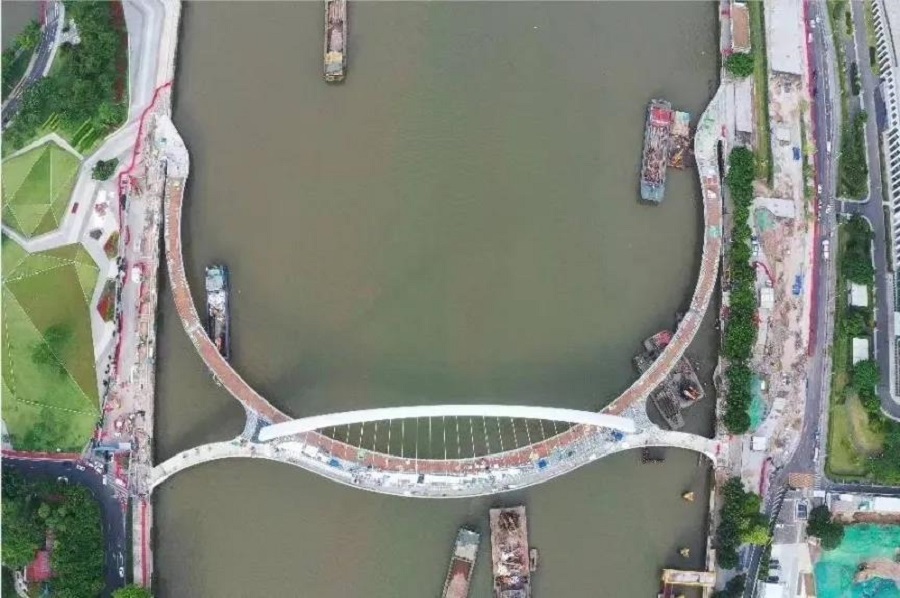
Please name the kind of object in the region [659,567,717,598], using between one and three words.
pier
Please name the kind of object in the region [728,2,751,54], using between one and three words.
building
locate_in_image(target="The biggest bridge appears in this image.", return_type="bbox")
[150,84,735,499]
